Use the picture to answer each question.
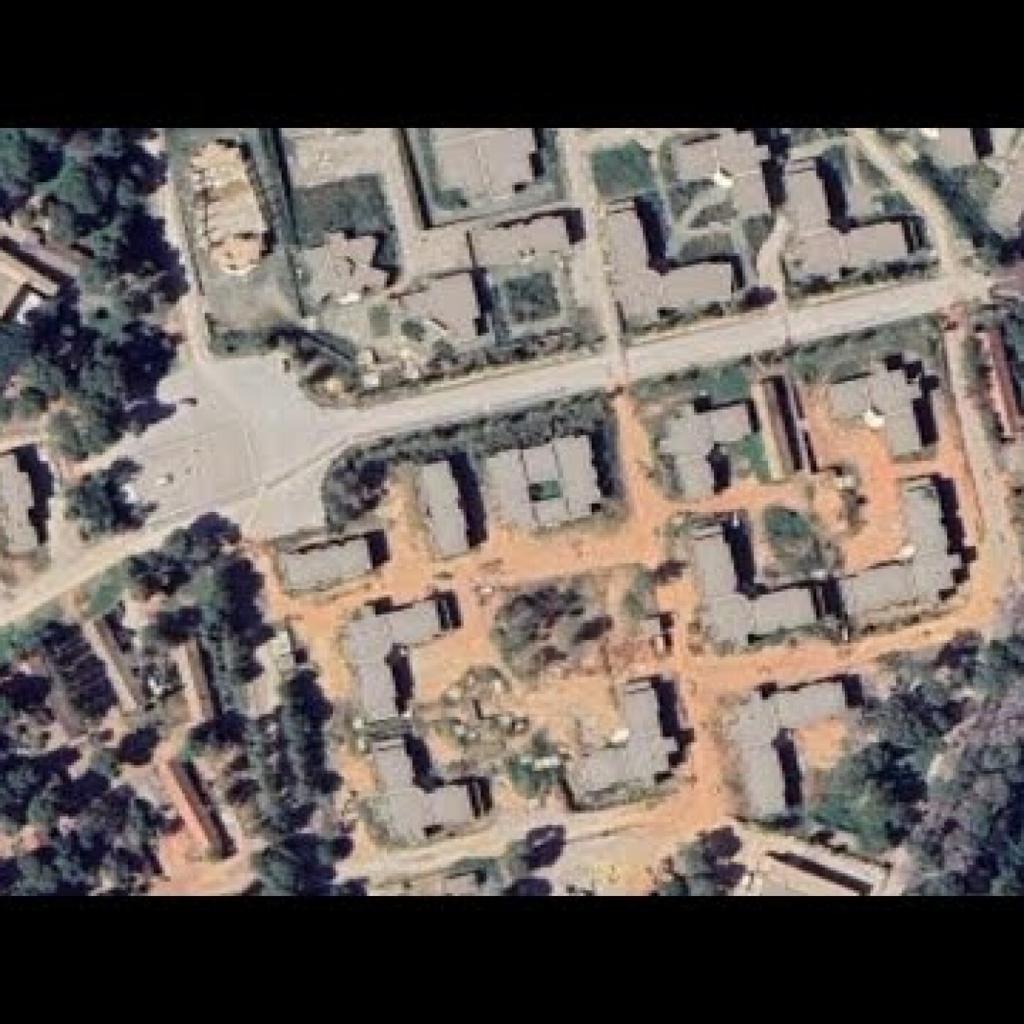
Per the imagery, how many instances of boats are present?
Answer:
zero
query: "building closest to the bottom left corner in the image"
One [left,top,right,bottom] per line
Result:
[158,757,224,859]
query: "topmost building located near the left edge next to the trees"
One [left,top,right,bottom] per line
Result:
[0,252,56,318]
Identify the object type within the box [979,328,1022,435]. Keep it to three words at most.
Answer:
building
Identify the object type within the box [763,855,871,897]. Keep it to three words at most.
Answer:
building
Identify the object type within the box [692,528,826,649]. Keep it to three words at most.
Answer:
house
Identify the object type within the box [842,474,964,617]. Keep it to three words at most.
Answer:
house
